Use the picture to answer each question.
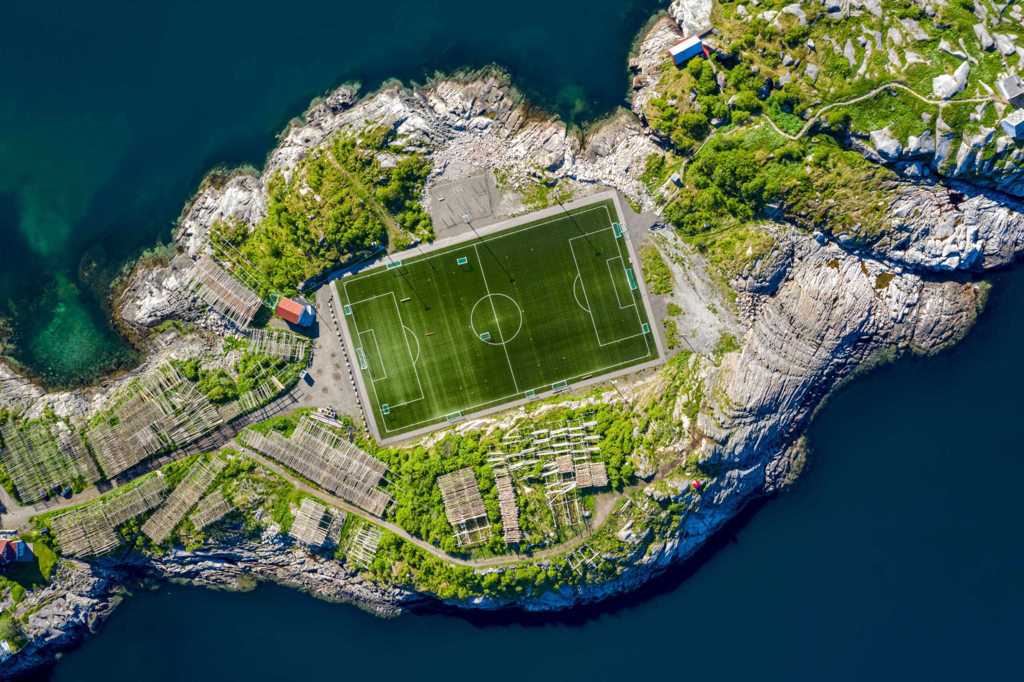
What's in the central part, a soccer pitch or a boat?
soccer pitch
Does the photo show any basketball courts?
No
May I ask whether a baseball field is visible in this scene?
No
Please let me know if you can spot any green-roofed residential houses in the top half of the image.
No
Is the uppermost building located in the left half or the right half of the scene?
right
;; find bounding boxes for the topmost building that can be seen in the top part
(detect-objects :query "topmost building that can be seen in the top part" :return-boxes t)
[667,37,707,67]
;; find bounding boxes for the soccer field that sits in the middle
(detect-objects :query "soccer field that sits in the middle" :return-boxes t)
[328,191,666,447]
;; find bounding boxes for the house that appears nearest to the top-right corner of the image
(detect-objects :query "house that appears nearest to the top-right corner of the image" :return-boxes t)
[992,73,1024,103]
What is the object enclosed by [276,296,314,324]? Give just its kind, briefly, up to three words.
house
